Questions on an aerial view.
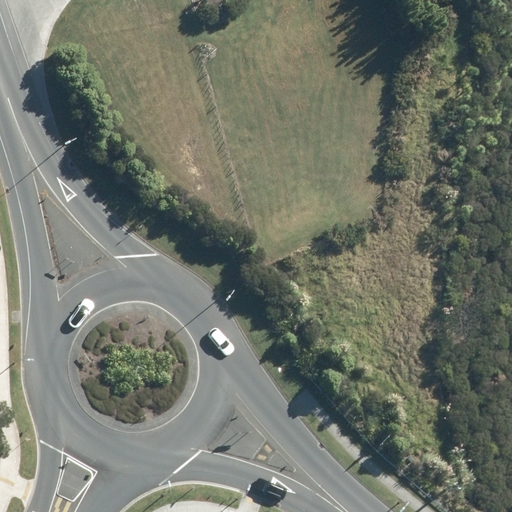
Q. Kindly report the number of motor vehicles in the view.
3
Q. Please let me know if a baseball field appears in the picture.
No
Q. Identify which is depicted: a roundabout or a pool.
roundabout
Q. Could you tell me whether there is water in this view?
No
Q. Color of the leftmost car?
white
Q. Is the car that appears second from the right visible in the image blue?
No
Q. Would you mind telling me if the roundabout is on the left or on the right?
left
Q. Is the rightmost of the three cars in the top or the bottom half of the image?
bottom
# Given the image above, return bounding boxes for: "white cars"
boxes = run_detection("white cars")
[69,298,94,328]
[208,327,234,355]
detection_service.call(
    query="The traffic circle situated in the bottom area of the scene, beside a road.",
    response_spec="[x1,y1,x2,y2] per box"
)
[28,261,240,473]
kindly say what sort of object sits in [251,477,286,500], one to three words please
car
